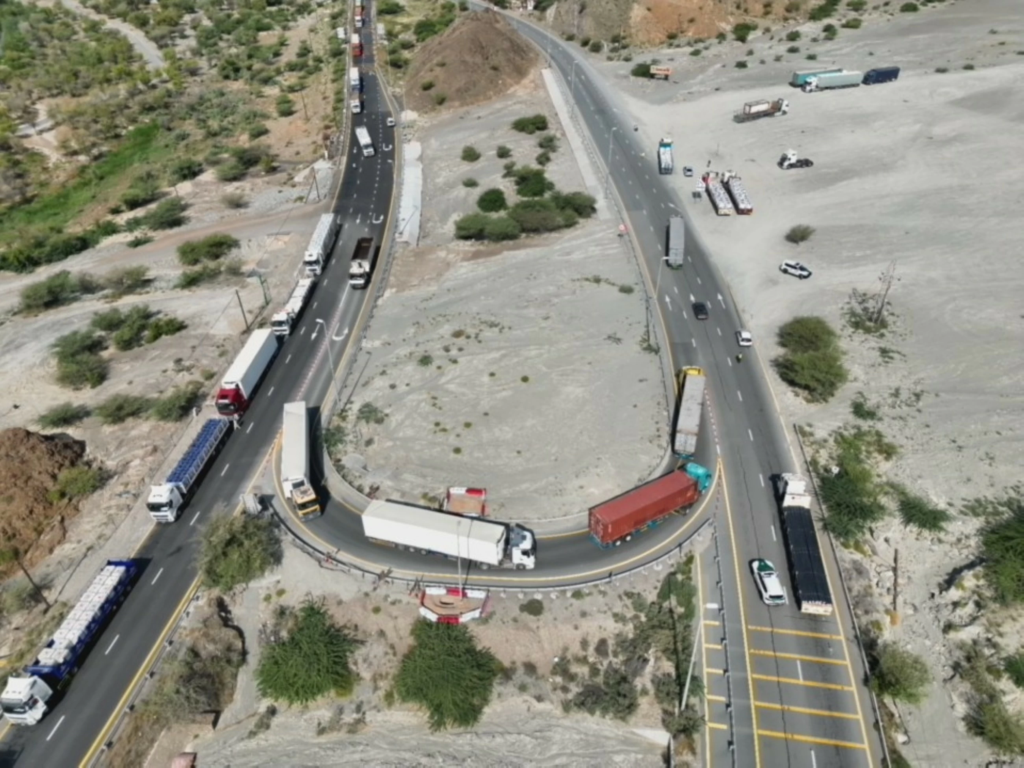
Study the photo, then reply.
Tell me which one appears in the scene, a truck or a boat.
truck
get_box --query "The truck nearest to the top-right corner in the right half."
[860,66,902,87]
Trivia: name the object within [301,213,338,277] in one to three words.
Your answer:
truck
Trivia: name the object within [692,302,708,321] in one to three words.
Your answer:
car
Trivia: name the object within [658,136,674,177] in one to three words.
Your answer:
vehicle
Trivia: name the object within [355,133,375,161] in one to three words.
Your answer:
vehicle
